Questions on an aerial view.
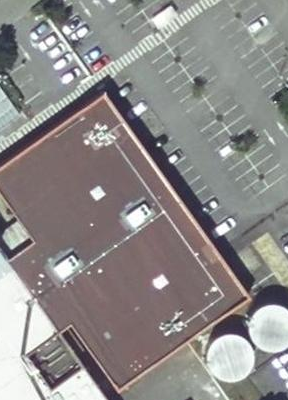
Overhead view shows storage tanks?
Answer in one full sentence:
Yes, you can see a storage tank in this photo.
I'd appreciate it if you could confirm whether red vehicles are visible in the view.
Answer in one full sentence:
Yes, there's a red vehicle here.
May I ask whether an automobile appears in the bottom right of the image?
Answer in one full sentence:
Yes, I can see an automobile in the bottom right of the image.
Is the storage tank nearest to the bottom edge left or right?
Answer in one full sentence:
The storage tank nearest to the bottom edge is on the right side of the image.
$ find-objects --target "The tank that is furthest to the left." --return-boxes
[206,334,256,383]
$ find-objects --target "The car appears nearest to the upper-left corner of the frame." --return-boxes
[29,24,50,40]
